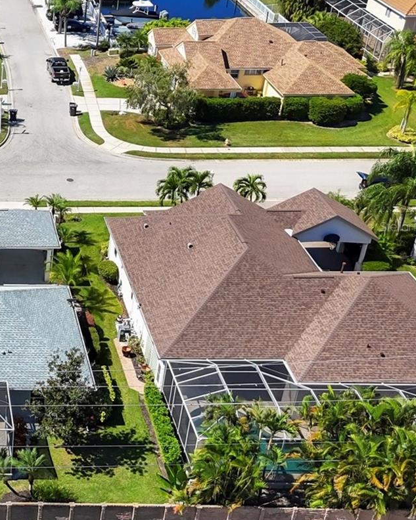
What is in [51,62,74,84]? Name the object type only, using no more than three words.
truck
